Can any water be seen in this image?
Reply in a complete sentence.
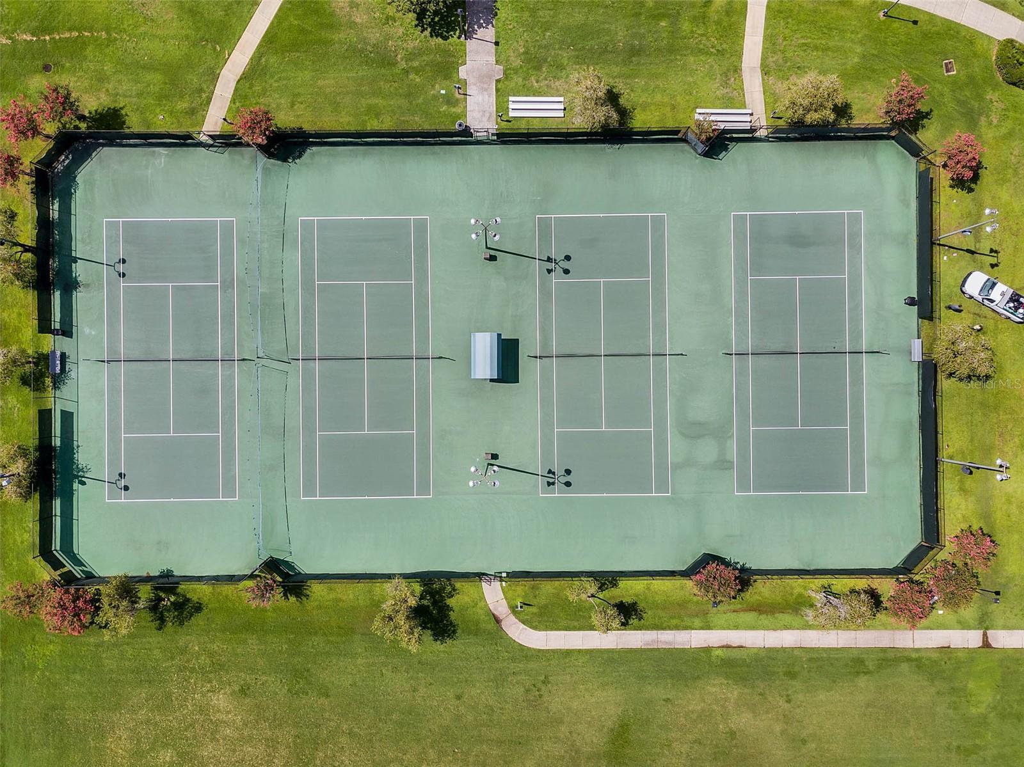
No, there's no water in this view.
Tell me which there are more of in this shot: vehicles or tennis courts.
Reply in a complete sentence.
The vehicles are outnumbered by the tennis courts.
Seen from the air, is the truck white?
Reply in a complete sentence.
Yes, white is the color of the truck.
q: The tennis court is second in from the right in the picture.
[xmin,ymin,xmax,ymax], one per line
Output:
[536,214,671,496]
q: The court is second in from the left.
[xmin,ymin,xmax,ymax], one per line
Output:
[299,216,432,499]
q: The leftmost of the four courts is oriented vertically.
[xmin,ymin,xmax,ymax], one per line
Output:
[104,218,238,502]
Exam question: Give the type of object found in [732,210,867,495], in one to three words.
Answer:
tennis court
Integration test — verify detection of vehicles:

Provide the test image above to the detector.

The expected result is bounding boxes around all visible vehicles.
[958,268,1024,319]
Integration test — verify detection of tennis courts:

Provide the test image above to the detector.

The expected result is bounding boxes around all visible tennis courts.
[104,218,238,502]
[732,210,867,495]
[536,214,671,496]
[299,216,432,499]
